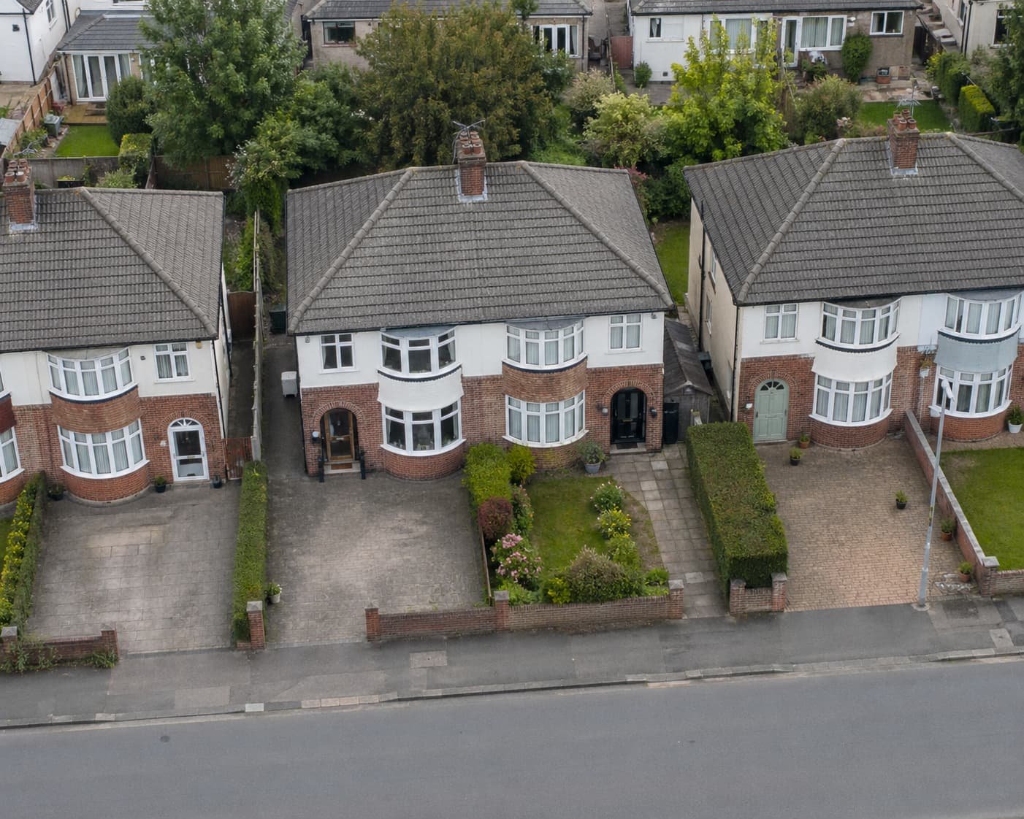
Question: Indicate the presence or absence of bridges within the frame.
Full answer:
No, the scene contains no bridge.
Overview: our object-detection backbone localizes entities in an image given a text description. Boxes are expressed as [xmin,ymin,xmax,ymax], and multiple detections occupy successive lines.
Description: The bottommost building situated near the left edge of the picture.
[0,158,229,504]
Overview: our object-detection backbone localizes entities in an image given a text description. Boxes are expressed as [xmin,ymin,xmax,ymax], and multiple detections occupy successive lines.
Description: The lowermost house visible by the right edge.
[685,105,1024,450]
